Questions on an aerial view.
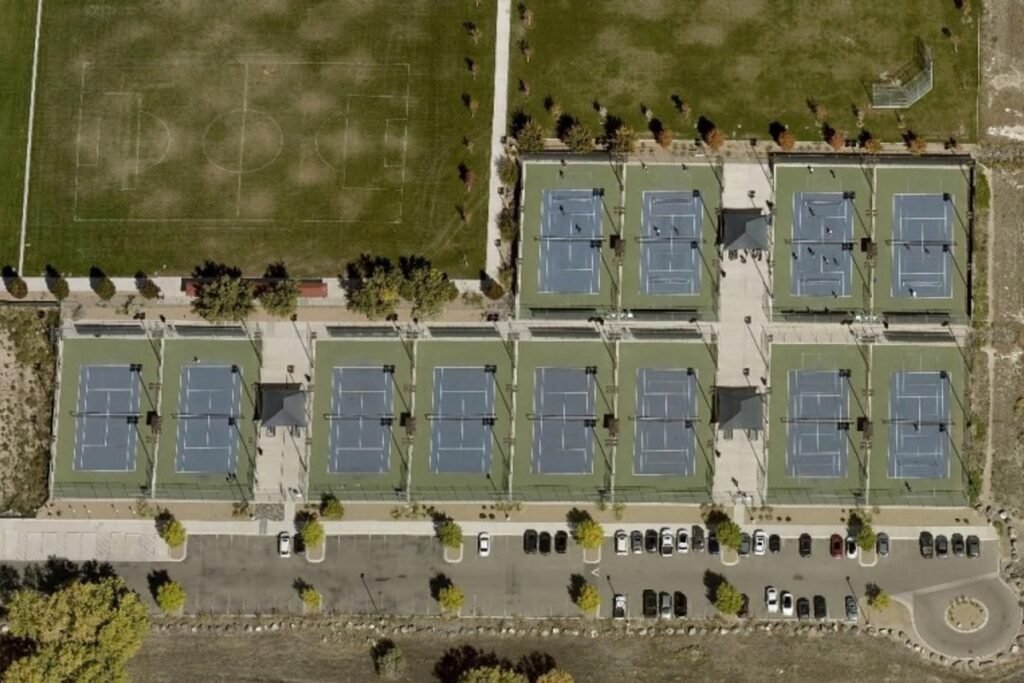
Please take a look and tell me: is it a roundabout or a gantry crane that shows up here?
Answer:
roundabout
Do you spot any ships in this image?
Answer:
No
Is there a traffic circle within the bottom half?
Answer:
Yes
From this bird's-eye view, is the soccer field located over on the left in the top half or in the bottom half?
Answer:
top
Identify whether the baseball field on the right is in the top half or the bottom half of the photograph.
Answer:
top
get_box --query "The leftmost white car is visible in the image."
[279,534,292,557]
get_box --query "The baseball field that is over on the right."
[504,0,979,142]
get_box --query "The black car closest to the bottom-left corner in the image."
[293,535,305,558]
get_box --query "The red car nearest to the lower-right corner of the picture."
[830,535,843,557]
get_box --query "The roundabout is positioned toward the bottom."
[909,569,1023,660]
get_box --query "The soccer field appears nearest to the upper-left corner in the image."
[25,0,497,278]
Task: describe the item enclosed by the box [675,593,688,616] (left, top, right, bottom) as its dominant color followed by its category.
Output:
black vehicle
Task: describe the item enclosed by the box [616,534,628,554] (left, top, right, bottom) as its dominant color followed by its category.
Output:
white vehicle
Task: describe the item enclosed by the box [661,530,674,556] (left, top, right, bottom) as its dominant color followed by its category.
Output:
white vehicle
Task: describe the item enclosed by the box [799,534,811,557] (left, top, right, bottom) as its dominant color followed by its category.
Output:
black vehicle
